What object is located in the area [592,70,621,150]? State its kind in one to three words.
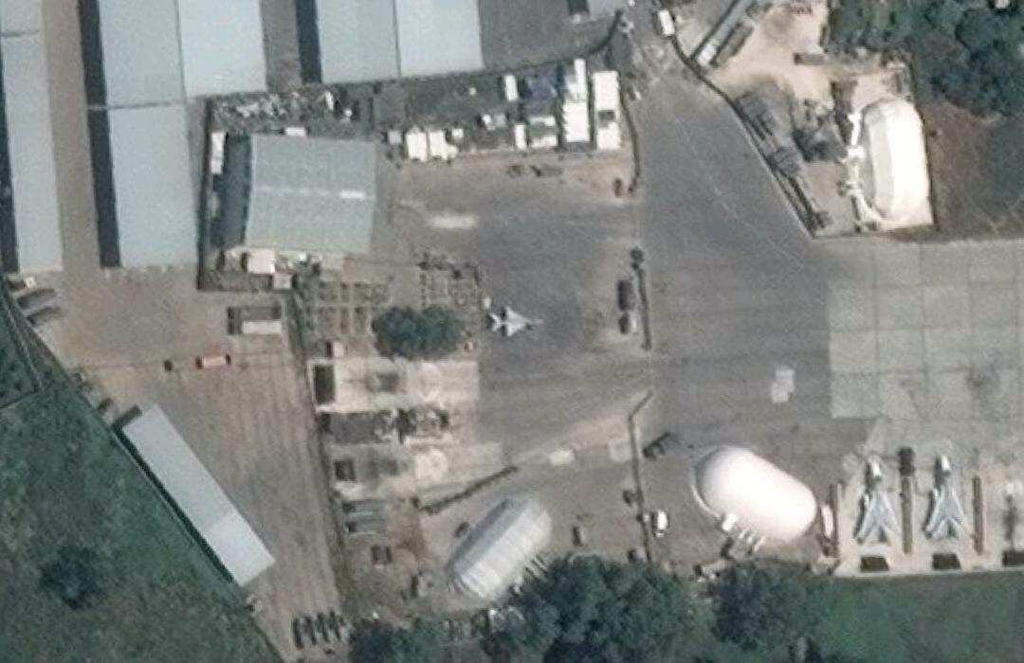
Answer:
shed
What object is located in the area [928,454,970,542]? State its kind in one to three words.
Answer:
airplane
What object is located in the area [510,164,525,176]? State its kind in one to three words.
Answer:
vehicle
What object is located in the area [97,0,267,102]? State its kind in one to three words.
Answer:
hangar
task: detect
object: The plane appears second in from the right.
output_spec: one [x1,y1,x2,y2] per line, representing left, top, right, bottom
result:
[862,457,903,544]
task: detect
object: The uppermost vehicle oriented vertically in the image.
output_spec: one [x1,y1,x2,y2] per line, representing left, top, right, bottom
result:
[659,8,674,36]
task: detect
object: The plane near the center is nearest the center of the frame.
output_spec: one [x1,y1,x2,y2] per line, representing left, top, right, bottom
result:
[489,309,546,336]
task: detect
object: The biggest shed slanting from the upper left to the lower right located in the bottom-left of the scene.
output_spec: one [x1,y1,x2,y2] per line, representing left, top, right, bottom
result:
[122,404,274,584]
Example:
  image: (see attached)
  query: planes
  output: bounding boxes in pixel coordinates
[862,457,903,544]
[489,309,546,336]
[928,454,970,542]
